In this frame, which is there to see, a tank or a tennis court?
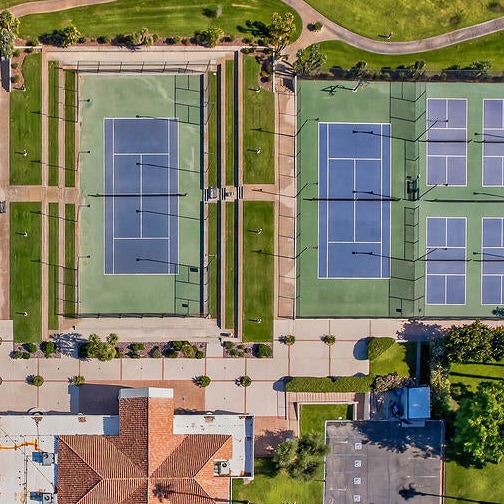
tennis court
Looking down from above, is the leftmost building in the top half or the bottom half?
bottom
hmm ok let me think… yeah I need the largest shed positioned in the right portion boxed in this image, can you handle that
[401,387,430,426]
